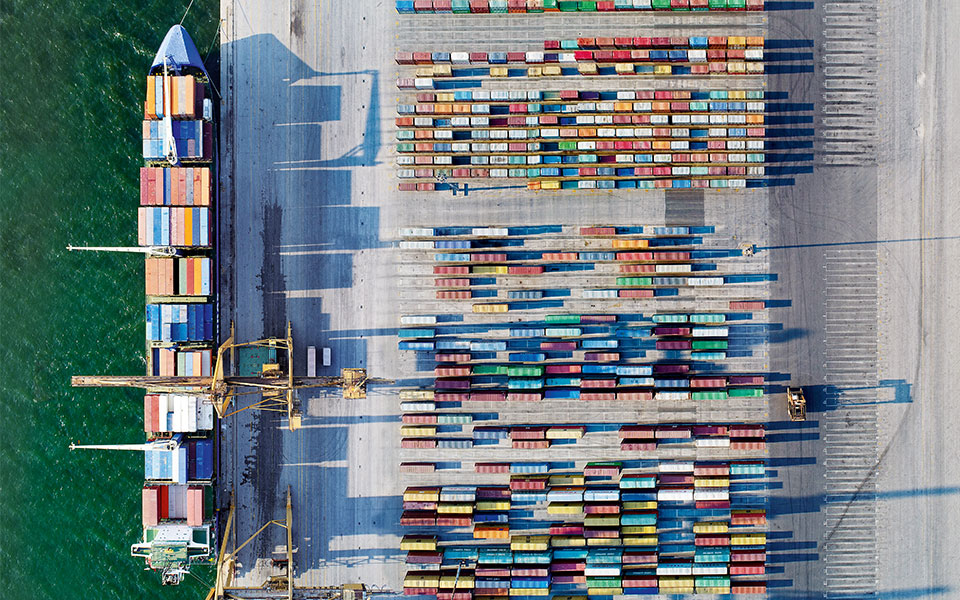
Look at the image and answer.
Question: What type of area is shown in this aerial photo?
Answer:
port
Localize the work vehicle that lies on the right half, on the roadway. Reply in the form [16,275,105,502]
[777,383,807,420]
